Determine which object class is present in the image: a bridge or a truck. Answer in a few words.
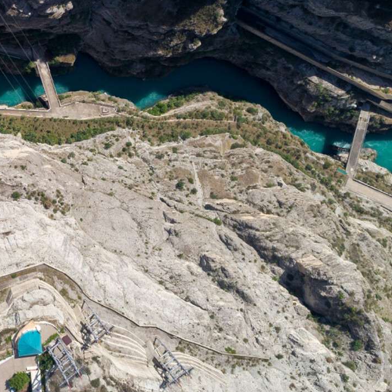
bridge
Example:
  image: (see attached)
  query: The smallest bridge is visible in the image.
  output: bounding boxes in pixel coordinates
[37,62,62,108]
